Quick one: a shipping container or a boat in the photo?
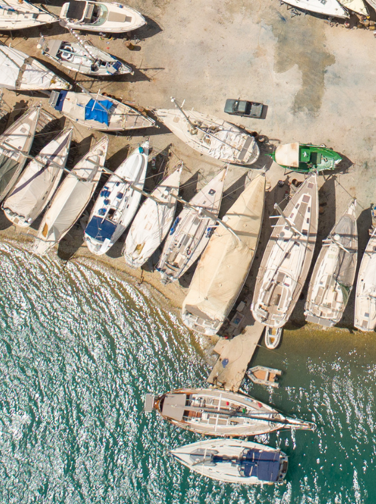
boat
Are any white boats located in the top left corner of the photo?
Yes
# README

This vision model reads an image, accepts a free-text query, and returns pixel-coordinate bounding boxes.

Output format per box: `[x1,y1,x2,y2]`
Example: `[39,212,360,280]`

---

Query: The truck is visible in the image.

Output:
[226,96,268,120]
